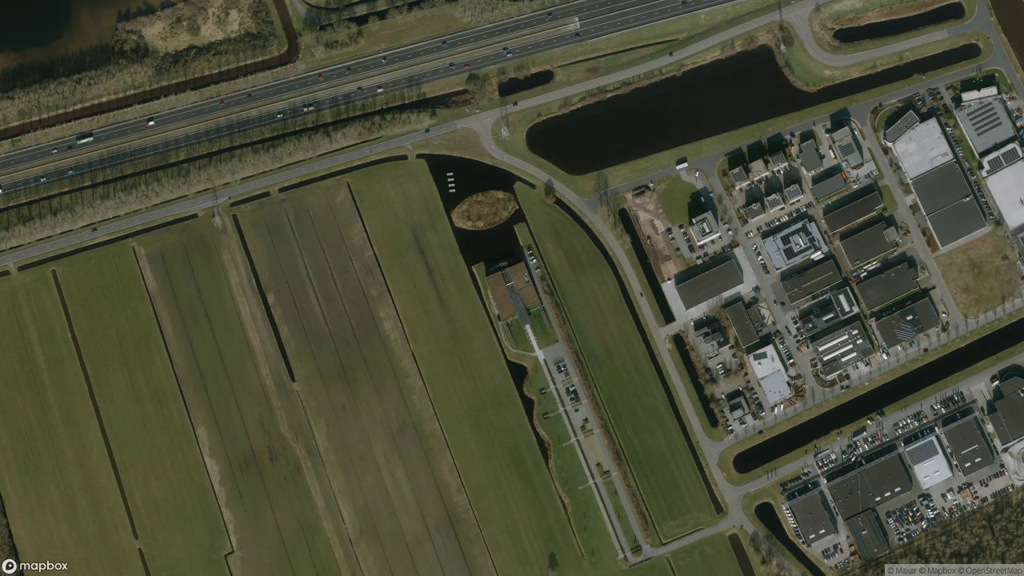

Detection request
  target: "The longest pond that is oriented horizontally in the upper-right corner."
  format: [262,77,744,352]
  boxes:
[833,1,965,43]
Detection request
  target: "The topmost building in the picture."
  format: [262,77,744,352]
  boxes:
[961,86,998,103]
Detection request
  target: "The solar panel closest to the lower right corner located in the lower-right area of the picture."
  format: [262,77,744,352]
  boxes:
[907,439,939,466]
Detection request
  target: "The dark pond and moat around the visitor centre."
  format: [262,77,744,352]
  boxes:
[416,154,702,558]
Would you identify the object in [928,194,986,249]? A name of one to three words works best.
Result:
building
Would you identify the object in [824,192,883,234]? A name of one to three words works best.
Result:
building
